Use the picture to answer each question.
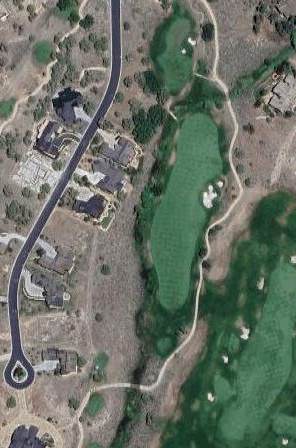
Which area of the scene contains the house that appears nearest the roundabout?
bottom left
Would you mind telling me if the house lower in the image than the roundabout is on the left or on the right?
left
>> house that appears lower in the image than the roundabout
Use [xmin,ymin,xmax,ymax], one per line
[8,424,45,448]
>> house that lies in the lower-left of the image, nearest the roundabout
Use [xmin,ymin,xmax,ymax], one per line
[42,341,81,379]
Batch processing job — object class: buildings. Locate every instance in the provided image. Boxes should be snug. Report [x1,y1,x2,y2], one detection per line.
[53,88,83,117]
[73,193,114,230]
[105,135,140,165]
[262,67,296,116]
[8,424,45,448]
[41,245,77,273]
[42,341,81,379]
[34,118,65,158]
[94,160,124,187]
[31,269,70,308]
